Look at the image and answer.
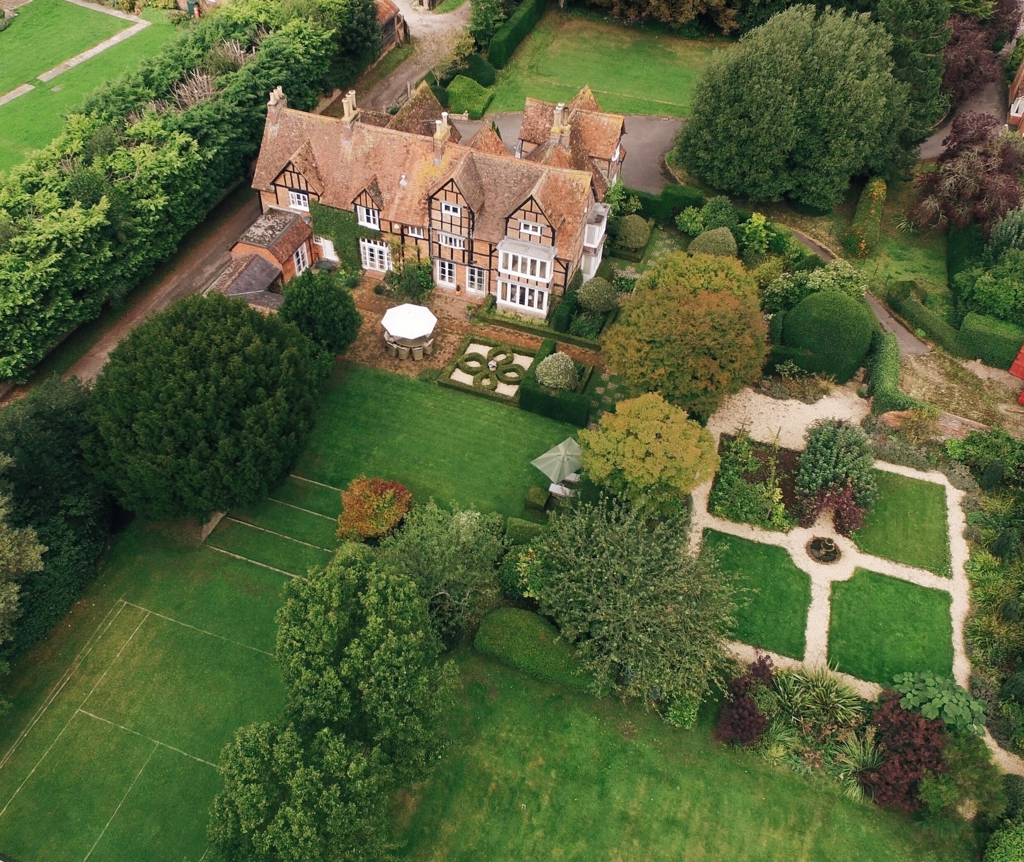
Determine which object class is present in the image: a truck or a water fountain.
water fountain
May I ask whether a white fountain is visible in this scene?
No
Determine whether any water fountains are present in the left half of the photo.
No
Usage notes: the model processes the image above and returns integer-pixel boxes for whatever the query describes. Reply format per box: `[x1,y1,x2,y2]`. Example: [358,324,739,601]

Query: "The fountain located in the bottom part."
[805,535,842,565]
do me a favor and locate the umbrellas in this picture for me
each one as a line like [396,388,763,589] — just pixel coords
[531,436,585,484]
[380,297,438,334]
